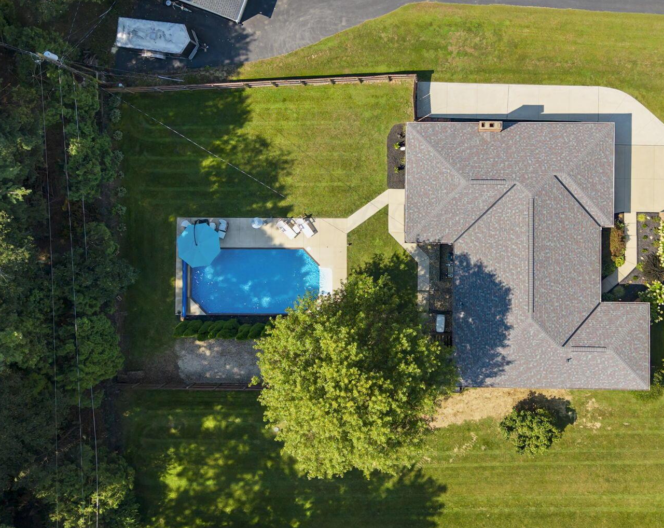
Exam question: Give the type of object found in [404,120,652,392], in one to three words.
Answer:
house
